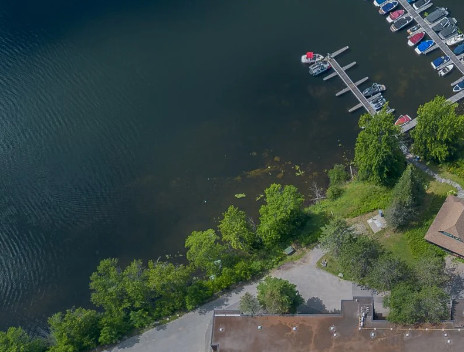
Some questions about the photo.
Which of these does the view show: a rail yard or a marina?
marina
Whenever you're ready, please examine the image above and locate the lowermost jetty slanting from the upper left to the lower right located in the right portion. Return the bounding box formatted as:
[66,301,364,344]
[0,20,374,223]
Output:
[327,55,377,119]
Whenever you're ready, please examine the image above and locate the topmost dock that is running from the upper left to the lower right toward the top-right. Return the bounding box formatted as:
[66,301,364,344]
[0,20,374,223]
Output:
[398,0,464,76]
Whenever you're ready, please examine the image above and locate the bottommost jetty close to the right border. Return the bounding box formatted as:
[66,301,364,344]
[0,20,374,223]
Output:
[399,99,446,133]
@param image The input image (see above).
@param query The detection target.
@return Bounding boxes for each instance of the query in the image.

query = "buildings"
[210,295,464,352]
[424,195,464,259]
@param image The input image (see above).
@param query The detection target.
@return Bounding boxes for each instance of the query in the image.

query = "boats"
[428,17,450,33]
[371,96,385,107]
[377,1,398,16]
[380,107,395,116]
[407,24,422,36]
[428,55,450,71]
[447,32,464,46]
[437,22,461,40]
[445,16,459,28]
[393,111,415,128]
[371,0,388,9]
[363,80,388,96]
[388,16,411,33]
[411,40,433,56]
[307,58,331,77]
[404,32,425,48]
[384,9,404,25]
[298,54,323,62]
[450,41,464,56]
[453,80,464,92]
[372,101,386,111]
[423,5,451,25]
[437,65,453,78]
